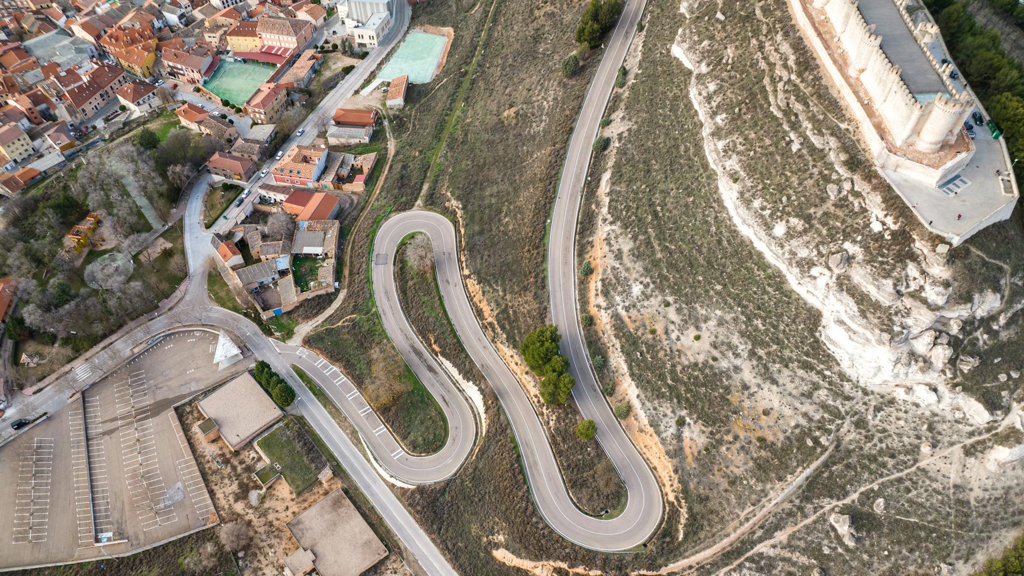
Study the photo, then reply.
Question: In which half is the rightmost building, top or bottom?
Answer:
top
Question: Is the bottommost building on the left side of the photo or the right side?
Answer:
left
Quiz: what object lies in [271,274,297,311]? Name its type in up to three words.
barn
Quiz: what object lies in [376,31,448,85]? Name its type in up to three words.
sports court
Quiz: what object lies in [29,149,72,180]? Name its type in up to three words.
house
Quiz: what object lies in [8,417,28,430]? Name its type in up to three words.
vehicle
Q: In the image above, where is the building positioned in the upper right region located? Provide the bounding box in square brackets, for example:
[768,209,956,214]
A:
[815,0,981,154]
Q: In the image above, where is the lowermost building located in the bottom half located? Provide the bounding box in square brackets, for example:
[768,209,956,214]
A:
[283,487,389,576]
